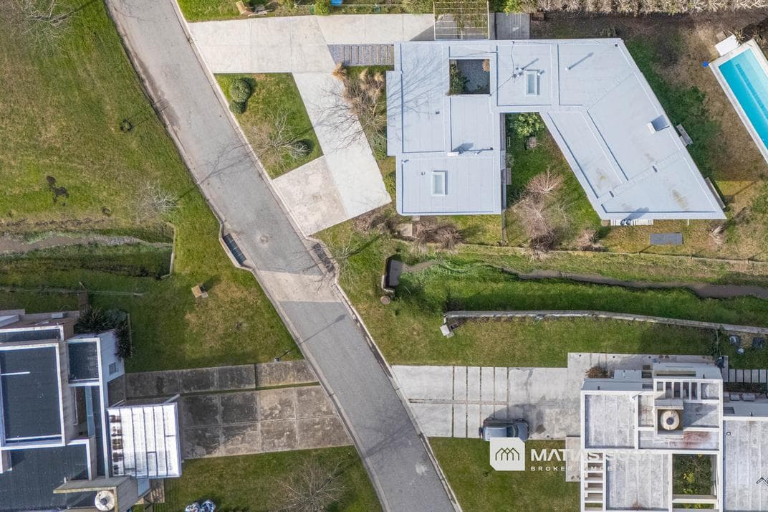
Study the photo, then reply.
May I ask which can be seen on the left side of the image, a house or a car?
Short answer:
house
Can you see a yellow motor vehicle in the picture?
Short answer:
No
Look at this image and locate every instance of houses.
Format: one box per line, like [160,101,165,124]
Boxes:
[581,364,768,512]
[0,319,196,512]
[386,38,725,224]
